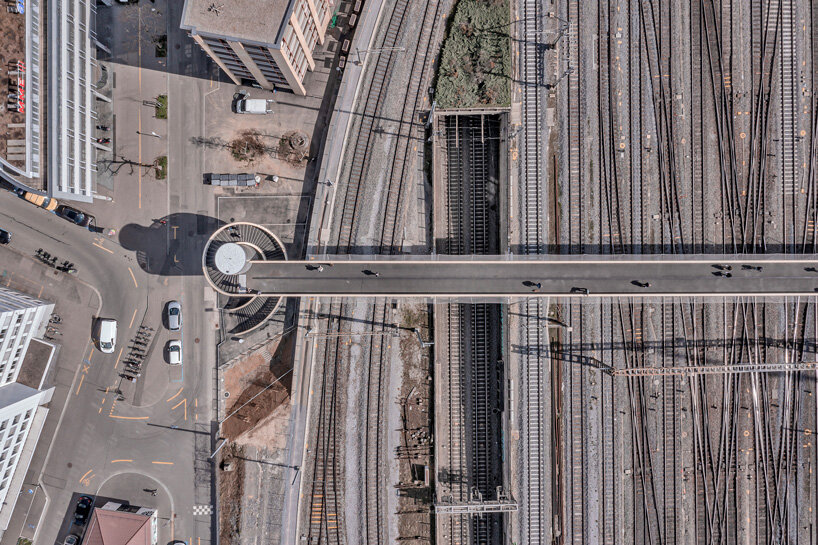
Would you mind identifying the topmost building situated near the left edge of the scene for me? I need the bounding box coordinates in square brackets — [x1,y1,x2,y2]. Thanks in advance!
[0,0,113,204]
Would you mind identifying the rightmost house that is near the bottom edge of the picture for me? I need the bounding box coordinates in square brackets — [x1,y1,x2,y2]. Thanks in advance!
[89,502,158,545]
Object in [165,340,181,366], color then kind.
white car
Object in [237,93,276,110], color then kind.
white vehicle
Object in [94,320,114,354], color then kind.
white vehicle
